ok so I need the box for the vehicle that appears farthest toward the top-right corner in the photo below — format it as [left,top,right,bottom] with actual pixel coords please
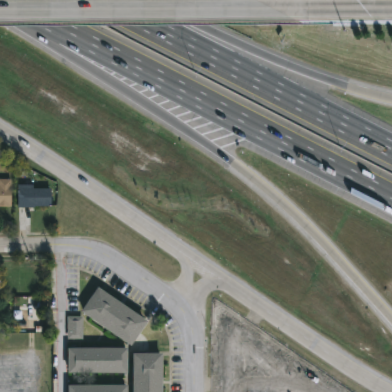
[360,138,387,154]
